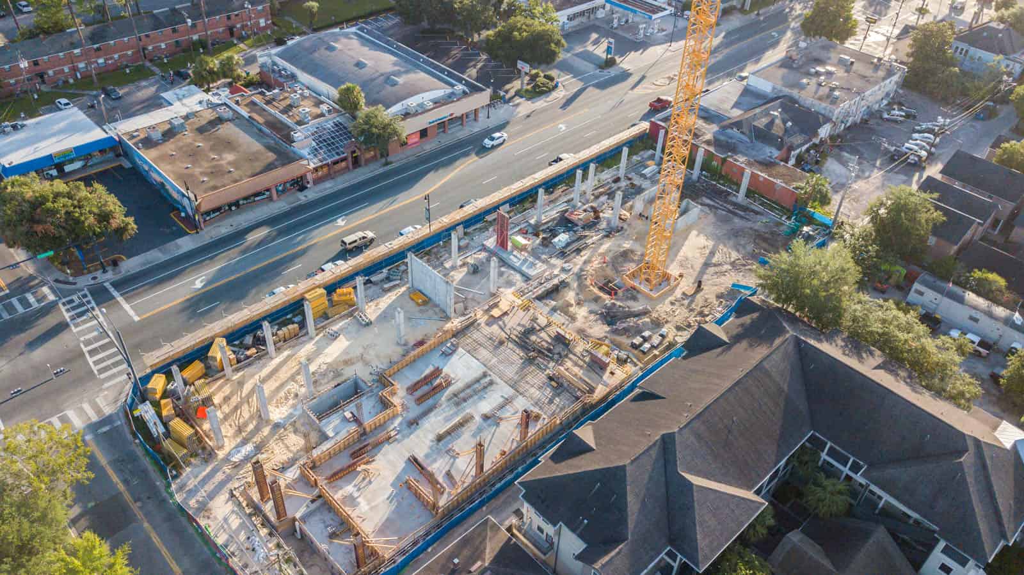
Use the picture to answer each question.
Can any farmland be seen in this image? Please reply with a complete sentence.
No, there is no farmland in the image.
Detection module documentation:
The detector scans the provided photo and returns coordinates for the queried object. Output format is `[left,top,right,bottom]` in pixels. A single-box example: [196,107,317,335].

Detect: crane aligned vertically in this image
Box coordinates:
[637,0,717,288]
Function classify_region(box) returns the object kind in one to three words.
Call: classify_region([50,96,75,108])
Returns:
vehicle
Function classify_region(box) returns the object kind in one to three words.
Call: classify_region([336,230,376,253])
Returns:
vehicle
